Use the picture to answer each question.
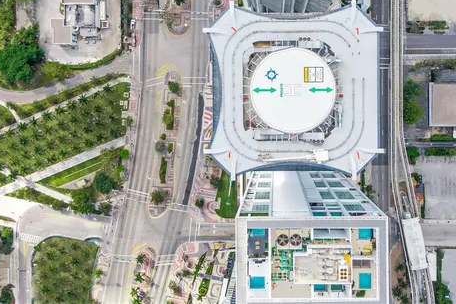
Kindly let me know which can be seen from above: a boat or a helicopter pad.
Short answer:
helicopter pad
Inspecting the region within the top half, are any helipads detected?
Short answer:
Yes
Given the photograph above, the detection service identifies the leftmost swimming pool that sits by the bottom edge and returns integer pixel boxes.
[249,275,266,290]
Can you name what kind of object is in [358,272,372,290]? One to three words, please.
swimming pool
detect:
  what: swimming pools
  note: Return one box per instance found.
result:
[313,283,326,292]
[358,229,373,240]
[358,272,372,290]
[250,229,267,237]
[331,283,343,292]
[249,275,266,290]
